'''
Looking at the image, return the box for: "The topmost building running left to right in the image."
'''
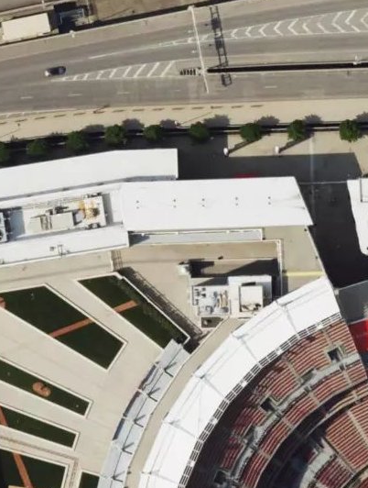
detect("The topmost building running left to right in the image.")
[0,148,187,199]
